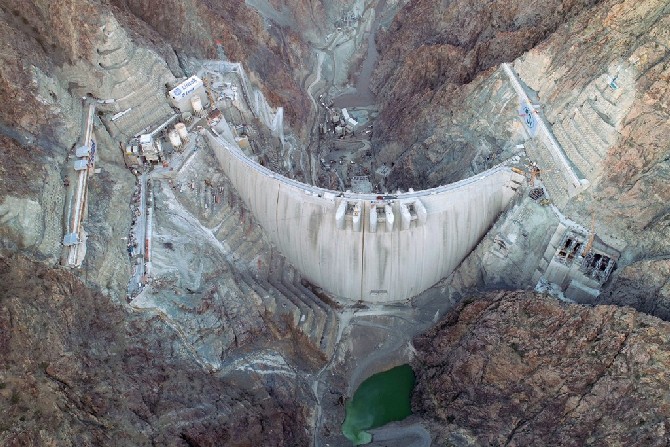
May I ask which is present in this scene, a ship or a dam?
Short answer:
dam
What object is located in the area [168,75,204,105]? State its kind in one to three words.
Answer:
building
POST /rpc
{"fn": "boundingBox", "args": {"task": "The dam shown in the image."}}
[208,117,527,303]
